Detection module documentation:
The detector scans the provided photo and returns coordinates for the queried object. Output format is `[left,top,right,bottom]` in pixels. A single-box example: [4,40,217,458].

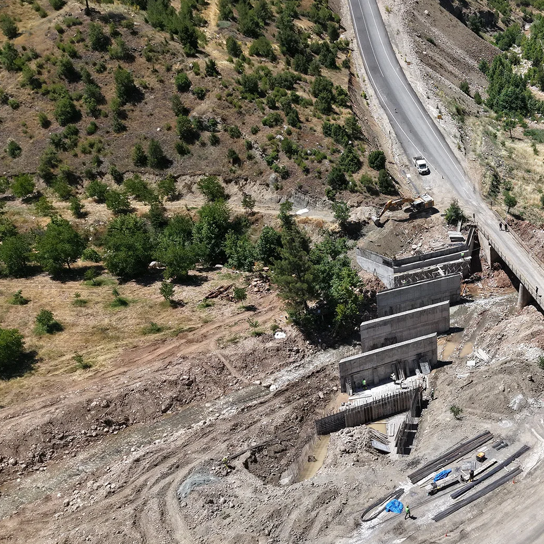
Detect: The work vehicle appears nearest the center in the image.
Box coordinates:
[375,194,437,220]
